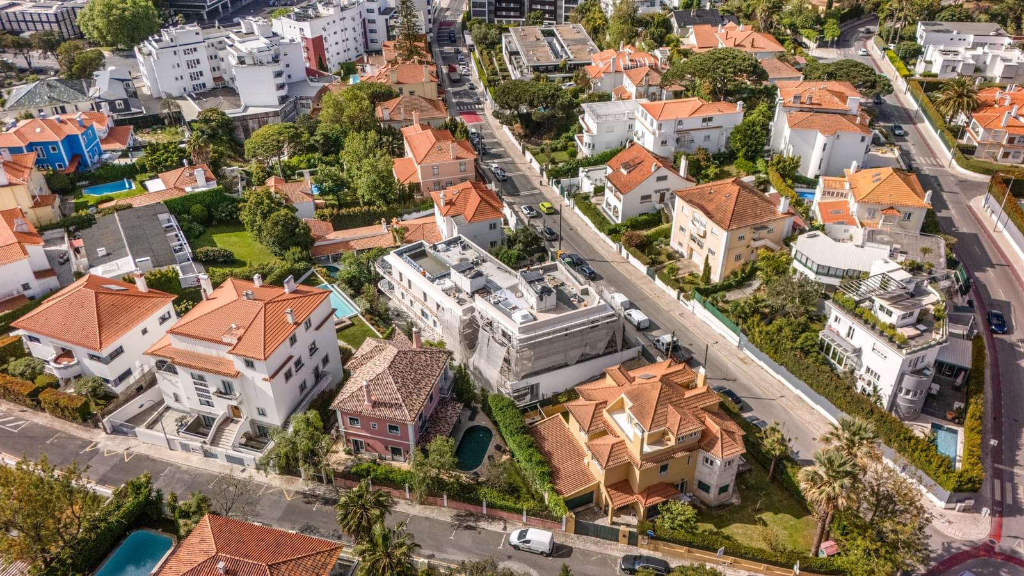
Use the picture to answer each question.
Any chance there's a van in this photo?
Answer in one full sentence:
Yes, a van is visible in the scene.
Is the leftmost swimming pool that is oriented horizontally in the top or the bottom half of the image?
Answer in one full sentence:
The top half of the photo is where the leftmost swimming pool that is oriented horizontally is.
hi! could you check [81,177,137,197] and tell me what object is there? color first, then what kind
blue swimming pool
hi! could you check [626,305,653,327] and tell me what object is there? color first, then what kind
white vehicle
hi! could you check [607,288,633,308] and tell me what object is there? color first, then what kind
white vehicle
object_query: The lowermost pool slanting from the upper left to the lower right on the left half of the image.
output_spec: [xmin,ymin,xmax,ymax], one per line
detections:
[313,281,364,322]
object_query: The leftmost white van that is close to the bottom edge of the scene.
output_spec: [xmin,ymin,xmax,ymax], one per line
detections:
[509,523,556,552]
